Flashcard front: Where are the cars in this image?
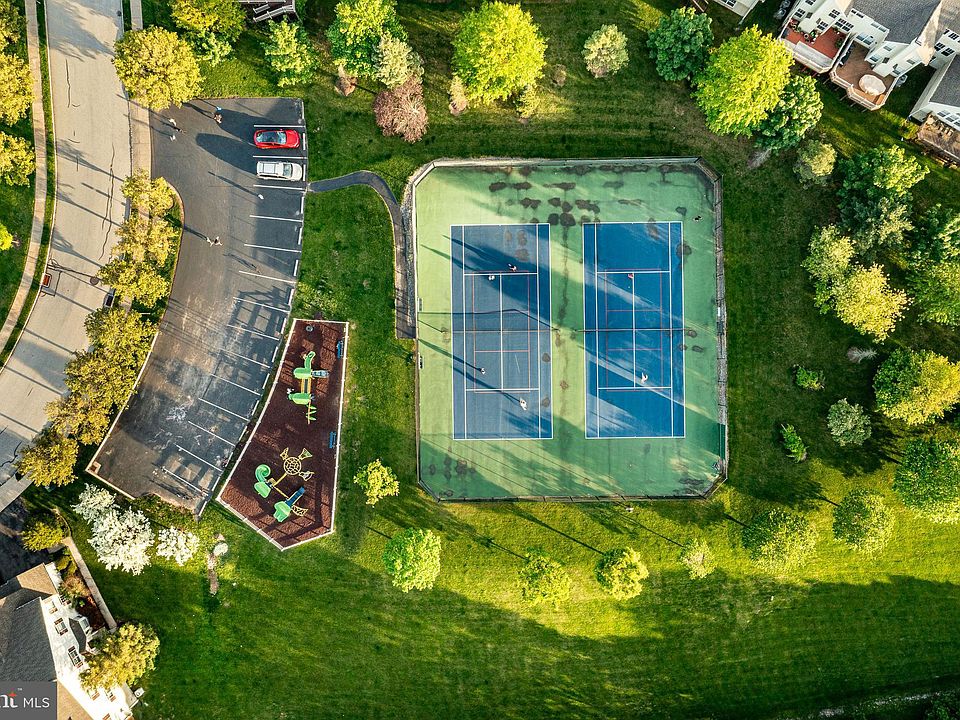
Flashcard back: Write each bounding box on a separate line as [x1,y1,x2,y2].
[255,128,300,149]
[256,160,304,183]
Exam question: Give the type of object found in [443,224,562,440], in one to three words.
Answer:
tennis court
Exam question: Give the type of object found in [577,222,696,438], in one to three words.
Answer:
tennis court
